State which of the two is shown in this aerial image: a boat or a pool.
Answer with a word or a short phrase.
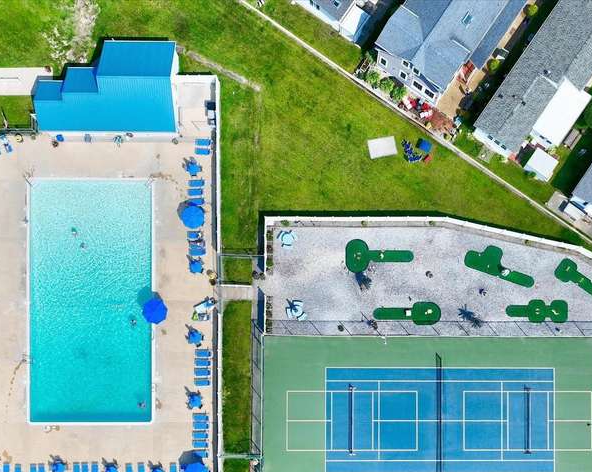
pool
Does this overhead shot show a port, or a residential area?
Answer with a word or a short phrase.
residential area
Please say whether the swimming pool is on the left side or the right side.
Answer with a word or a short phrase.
left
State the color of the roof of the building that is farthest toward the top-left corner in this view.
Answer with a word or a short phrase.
blue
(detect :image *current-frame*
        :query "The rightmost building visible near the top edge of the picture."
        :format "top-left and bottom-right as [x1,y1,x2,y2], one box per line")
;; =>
[472,0,592,160]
